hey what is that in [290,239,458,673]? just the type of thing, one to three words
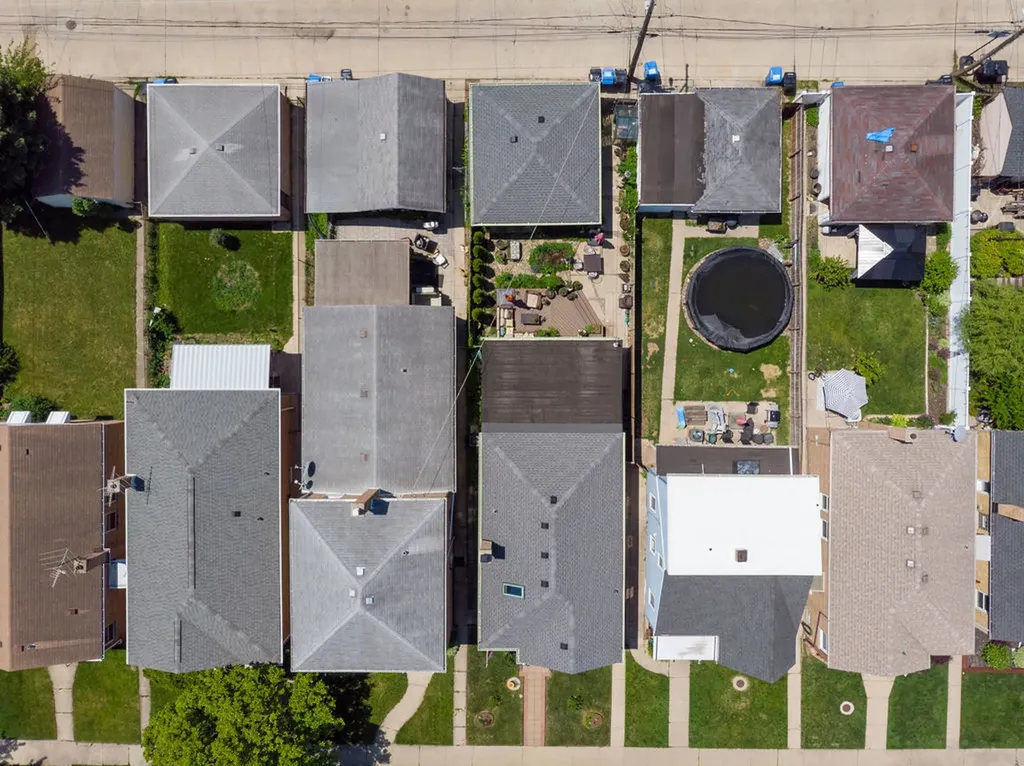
house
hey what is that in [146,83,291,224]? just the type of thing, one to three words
building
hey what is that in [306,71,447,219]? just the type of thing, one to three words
building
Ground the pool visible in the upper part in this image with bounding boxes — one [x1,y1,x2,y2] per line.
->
[681,247,795,352]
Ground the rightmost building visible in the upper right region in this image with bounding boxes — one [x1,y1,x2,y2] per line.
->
[974,96,1024,184]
